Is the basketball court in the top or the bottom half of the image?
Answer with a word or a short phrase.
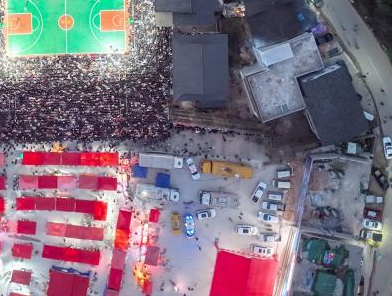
top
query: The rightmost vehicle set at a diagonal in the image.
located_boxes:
[371,167,388,187]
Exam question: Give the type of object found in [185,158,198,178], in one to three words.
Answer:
vehicle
